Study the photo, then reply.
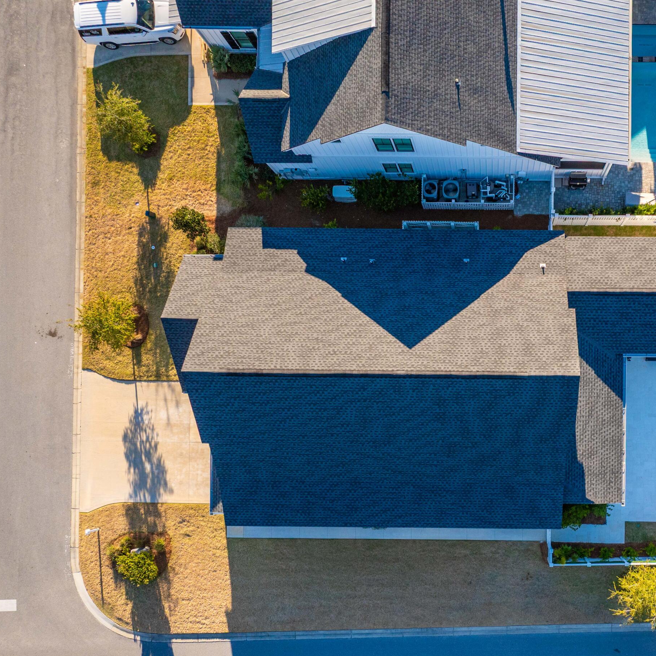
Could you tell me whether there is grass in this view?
Yes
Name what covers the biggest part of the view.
buildings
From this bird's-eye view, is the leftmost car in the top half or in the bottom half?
top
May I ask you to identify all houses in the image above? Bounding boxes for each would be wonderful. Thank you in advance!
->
[161,226,656,526]
[177,0,633,184]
